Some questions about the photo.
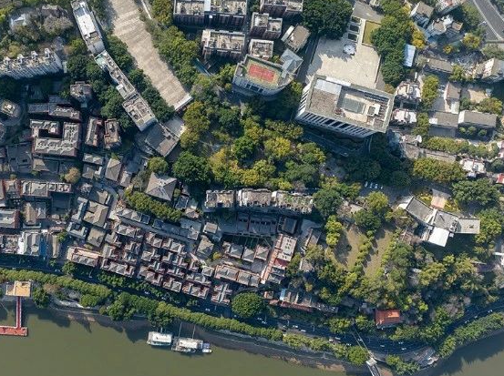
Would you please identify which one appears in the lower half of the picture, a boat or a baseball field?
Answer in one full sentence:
It is a boat that can be seen in the lower half of the picture.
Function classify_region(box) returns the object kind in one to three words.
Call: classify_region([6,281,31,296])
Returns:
building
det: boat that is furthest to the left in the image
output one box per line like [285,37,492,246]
[147,329,173,346]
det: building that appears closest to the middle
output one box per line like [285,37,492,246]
[234,190,273,210]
